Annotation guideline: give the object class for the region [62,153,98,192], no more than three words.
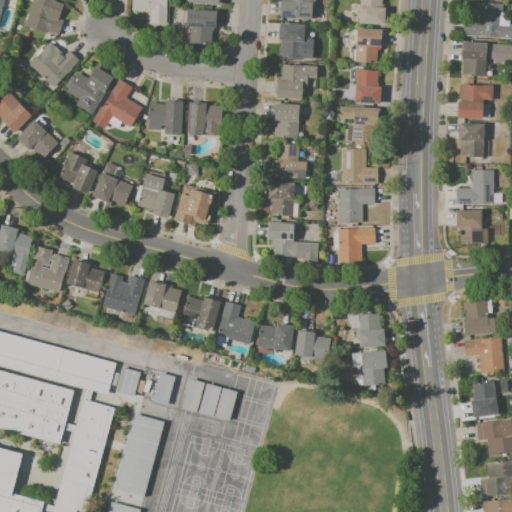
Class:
house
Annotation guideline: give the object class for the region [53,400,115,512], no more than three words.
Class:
building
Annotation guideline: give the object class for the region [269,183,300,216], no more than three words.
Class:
house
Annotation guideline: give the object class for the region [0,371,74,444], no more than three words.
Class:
building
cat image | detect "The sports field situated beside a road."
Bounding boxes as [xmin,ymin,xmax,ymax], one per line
[245,386,401,512]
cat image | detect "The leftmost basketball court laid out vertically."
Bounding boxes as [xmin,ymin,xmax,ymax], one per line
[181,435,223,502]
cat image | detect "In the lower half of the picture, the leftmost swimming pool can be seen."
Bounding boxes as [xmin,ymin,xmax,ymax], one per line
[184,326,212,344]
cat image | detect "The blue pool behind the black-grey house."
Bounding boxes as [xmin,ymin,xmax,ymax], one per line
[262,350,292,368]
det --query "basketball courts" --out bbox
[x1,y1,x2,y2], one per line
[214,444,255,512]
[181,435,223,502]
